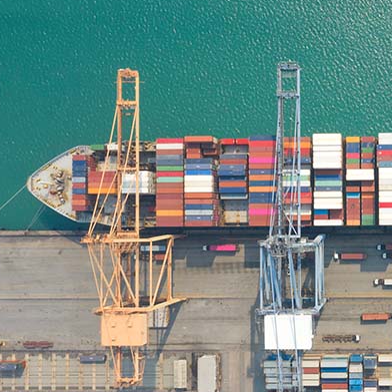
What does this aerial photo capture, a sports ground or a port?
port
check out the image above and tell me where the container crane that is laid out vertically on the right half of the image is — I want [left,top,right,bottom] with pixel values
[253,62,332,392]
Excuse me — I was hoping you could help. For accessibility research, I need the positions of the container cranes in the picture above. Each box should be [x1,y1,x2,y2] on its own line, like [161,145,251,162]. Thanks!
[80,67,196,388]
[253,62,332,392]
